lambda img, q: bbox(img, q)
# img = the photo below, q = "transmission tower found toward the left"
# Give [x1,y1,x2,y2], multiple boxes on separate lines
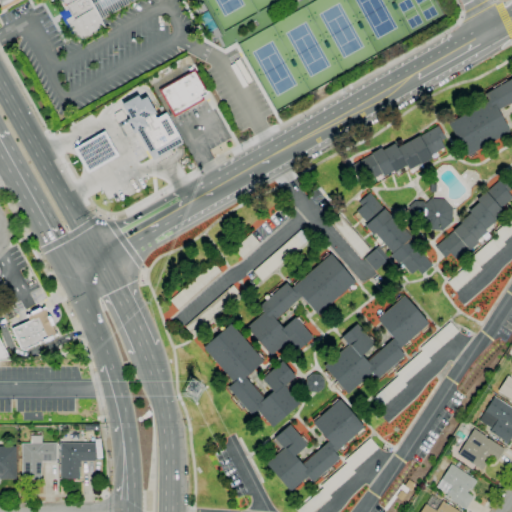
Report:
[183,376,207,404]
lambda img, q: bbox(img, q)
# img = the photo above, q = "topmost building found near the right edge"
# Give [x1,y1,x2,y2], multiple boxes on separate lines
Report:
[452,80,512,154]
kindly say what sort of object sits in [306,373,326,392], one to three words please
gazebo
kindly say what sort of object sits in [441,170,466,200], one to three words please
swimming pool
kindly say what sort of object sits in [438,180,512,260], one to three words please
building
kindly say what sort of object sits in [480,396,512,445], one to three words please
house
